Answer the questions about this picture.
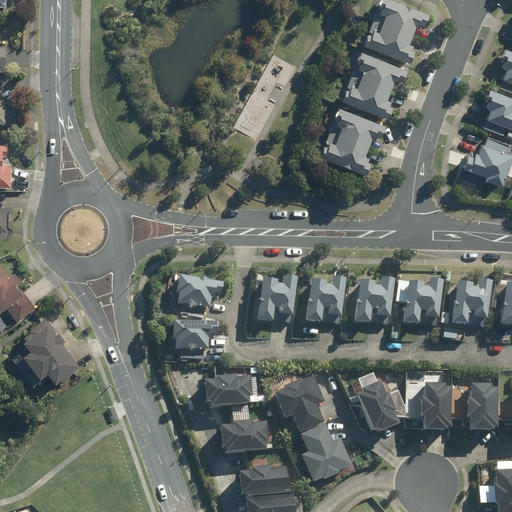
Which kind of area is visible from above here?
residential area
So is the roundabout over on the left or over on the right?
left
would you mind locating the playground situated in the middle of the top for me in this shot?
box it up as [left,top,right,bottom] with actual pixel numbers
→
[234,54,298,142]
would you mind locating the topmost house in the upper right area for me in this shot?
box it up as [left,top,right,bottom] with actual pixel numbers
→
[365,0,431,64]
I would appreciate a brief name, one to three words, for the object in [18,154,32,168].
vehicle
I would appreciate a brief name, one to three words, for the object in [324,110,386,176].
house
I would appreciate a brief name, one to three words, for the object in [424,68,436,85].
vehicle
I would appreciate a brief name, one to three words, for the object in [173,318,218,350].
house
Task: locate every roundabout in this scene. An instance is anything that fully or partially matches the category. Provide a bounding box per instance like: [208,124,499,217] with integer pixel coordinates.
[56,204,109,256]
